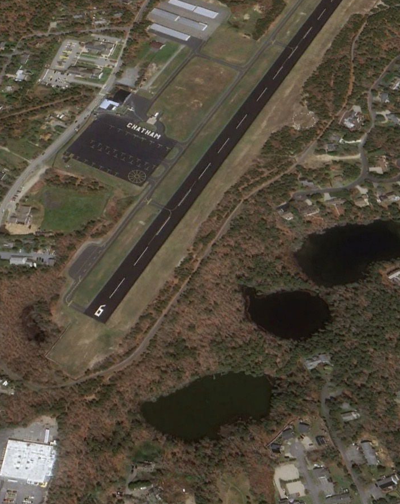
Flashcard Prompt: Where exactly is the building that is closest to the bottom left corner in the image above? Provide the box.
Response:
[0,439,56,485]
